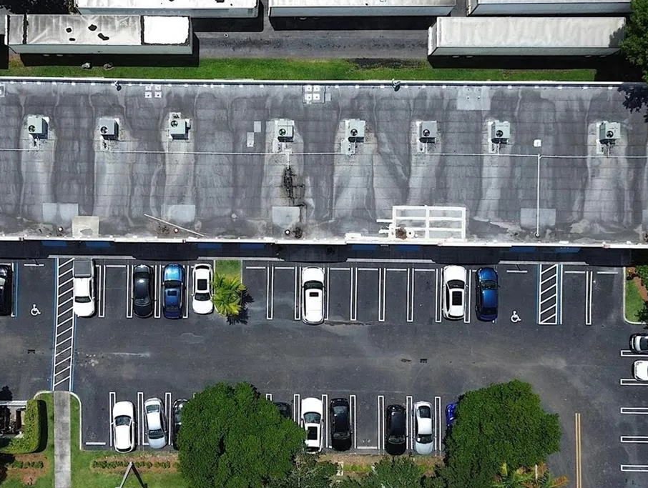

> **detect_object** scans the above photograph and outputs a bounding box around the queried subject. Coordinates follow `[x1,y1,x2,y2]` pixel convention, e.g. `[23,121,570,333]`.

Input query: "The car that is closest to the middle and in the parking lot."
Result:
[301,267,326,325]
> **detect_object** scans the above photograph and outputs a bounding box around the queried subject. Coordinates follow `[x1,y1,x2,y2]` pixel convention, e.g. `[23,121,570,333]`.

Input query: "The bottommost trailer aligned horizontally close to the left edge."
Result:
[6,13,192,56]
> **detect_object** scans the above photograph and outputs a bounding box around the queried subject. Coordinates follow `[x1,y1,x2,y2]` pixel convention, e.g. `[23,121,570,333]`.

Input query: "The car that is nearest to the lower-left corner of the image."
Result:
[111,401,136,454]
